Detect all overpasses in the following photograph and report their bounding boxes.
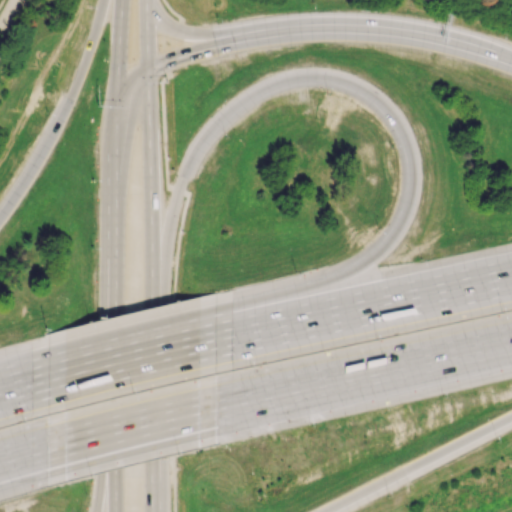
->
[49,294,216,486]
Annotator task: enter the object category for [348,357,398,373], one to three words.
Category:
vehicle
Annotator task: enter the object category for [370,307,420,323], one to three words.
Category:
vehicle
